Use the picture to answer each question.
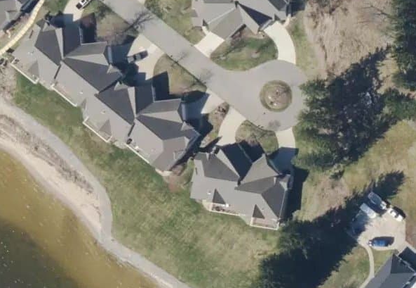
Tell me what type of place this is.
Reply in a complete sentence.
The picture captures a residential area.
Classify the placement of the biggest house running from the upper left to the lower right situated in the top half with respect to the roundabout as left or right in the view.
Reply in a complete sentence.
It is on the left side of the roundabout that the biggest house running from the upper left to the lower right situated in the top half is positioned.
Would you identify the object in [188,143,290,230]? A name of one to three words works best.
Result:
house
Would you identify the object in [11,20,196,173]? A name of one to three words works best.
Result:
house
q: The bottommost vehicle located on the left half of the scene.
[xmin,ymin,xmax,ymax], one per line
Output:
[127,49,147,63]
